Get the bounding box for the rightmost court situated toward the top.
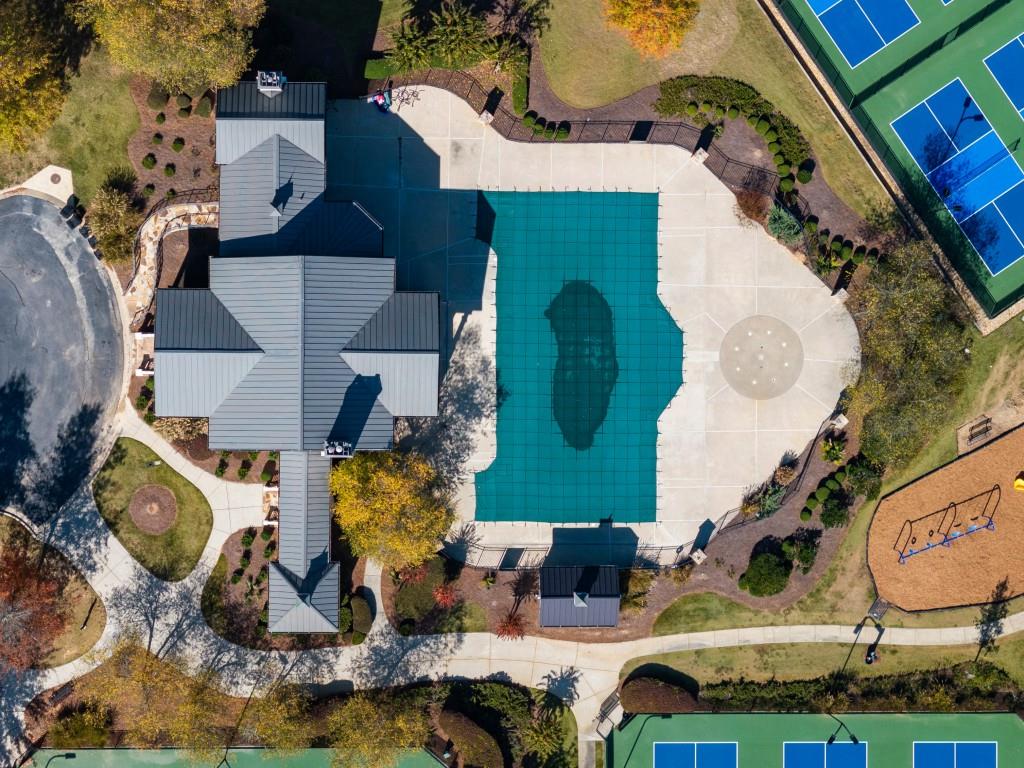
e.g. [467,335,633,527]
[983,34,1024,120]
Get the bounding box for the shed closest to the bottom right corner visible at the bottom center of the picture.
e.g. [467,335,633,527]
[536,564,620,629]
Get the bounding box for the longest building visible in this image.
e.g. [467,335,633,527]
[154,70,440,633]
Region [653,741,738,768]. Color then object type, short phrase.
blue sports court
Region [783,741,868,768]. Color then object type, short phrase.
blue sports court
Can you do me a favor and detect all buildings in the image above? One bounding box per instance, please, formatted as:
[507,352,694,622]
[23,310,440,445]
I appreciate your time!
[536,564,620,629]
[154,70,440,633]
